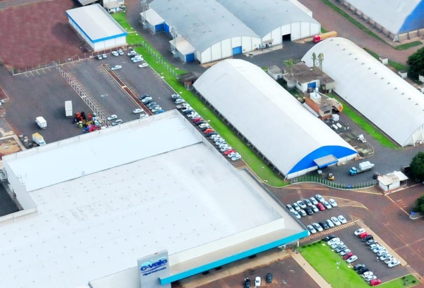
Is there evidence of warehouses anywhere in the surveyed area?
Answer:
Yes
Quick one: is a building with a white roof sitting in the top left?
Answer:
Yes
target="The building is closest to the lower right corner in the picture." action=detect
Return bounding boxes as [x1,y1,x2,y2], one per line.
[375,169,406,193]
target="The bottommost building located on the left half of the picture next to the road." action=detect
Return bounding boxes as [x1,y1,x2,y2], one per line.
[0,104,308,288]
